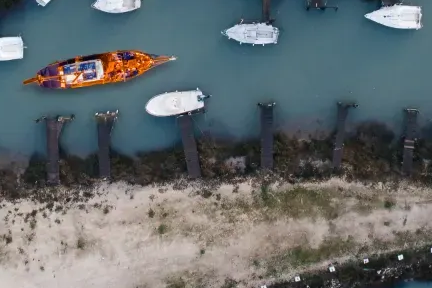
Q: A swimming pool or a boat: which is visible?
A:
boat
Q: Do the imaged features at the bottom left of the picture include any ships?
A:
No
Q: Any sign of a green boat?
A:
No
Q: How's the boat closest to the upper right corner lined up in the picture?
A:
from left to right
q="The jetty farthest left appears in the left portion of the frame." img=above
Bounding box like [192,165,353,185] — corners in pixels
[34,112,77,184]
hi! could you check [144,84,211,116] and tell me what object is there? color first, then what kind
white boat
